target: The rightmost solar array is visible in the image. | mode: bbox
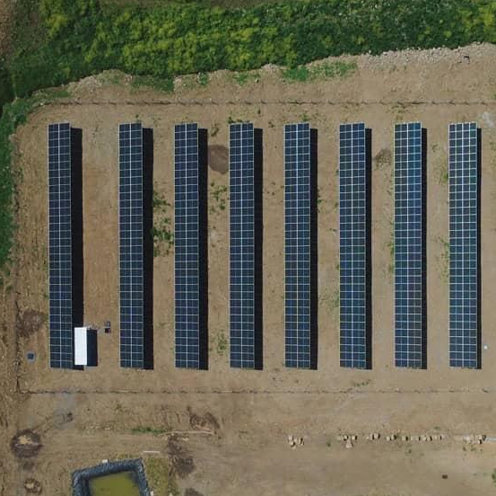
[449,122,478,368]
